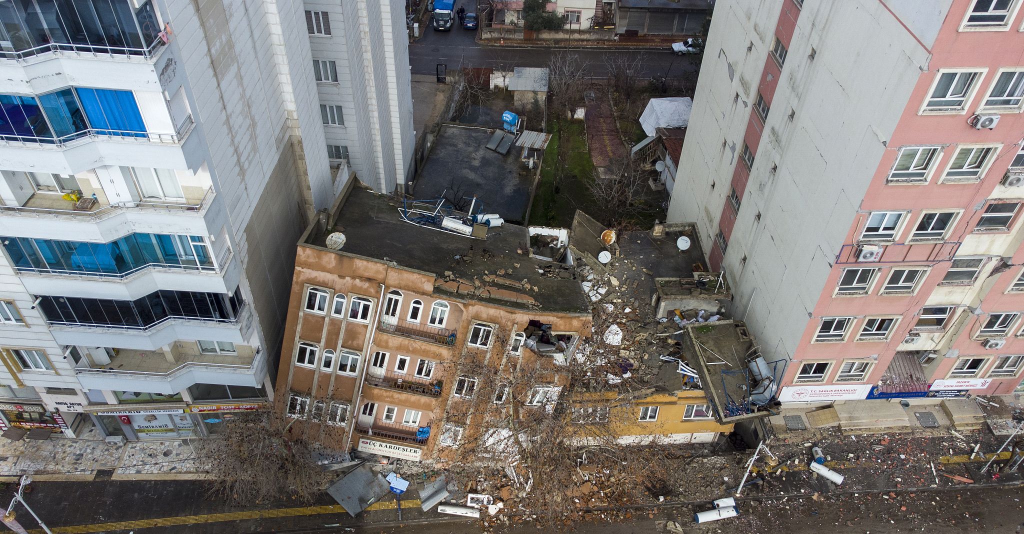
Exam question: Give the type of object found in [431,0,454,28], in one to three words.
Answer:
truck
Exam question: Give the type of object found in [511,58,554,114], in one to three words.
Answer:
shed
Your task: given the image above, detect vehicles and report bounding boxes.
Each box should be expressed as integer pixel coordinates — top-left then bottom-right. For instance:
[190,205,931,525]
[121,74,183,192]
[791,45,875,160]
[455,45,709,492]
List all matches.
[431,0,454,28]
[461,7,480,27]
[670,36,704,54]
